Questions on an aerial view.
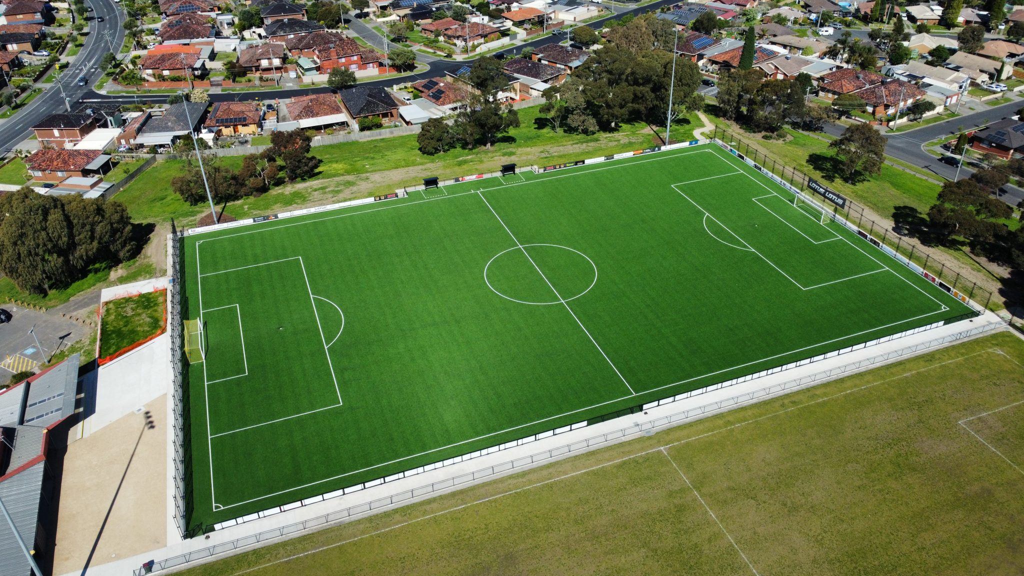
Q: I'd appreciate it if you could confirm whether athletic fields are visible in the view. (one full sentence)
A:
Yes, you can see an athletic field in this photo.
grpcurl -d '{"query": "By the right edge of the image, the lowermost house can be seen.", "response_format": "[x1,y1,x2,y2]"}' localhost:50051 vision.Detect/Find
[970,116,1024,159]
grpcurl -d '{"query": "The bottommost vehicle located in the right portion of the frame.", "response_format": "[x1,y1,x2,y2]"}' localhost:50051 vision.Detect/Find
[939,155,966,167]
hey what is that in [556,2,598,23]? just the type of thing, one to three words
house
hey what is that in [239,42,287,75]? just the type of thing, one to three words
house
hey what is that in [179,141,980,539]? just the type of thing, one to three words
sports field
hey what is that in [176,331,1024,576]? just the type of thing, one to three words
sports field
